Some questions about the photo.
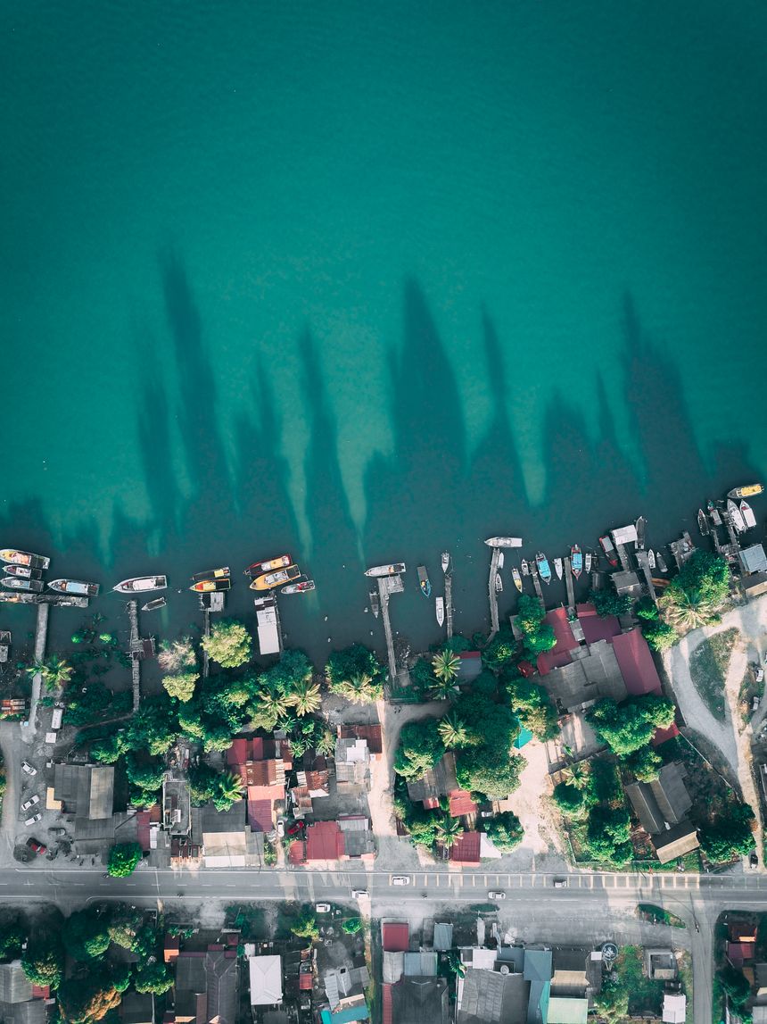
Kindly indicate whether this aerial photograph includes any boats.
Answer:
Yes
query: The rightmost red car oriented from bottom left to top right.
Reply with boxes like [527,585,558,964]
[287,820,304,834]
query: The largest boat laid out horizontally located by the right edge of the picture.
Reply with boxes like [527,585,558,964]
[716,484,765,502]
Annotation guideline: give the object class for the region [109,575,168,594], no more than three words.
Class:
boat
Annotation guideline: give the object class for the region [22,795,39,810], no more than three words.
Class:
car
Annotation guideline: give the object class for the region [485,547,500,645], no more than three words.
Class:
pier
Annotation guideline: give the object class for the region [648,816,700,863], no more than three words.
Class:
house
